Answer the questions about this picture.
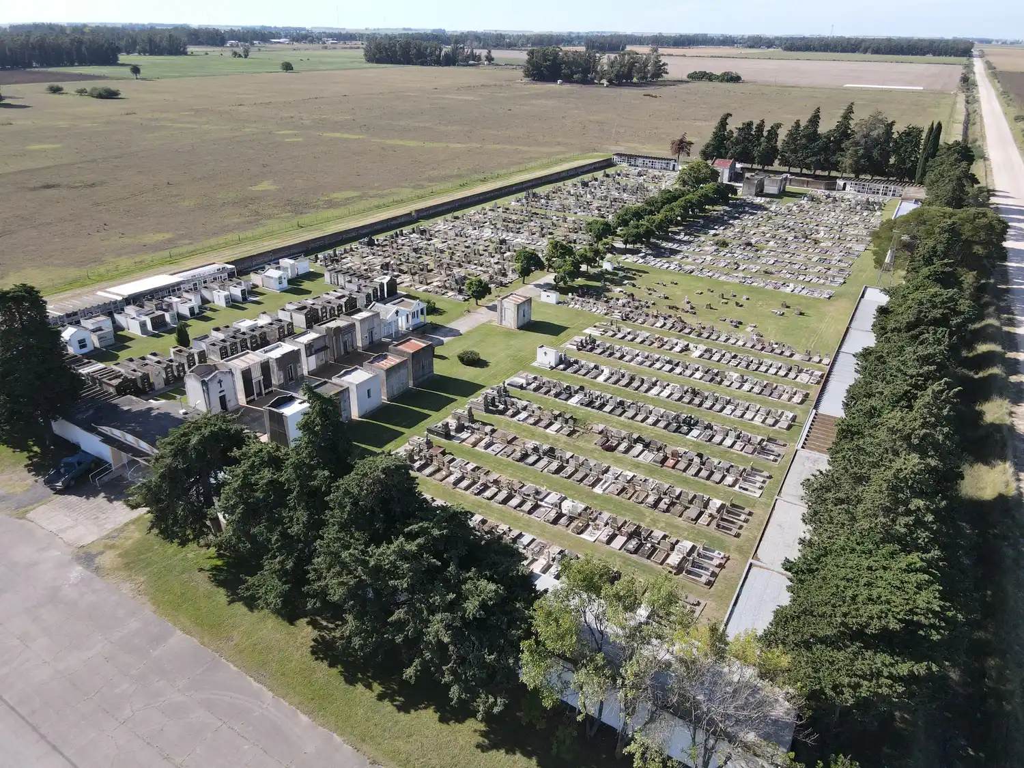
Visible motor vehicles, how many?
1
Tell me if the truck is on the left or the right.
left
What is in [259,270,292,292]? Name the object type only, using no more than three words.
building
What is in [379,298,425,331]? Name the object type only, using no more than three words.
building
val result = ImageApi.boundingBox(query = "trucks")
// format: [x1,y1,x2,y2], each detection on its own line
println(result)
[42,452,100,492]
